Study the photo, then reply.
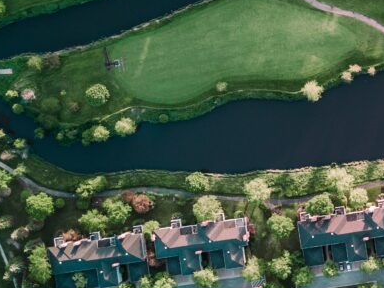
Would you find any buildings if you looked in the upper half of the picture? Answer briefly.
No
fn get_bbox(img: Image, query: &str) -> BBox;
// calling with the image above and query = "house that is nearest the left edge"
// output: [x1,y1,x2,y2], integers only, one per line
[48,223,156,286]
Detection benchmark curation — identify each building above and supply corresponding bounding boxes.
[48,223,156,286]
[153,208,254,273]
[298,194,384,261]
